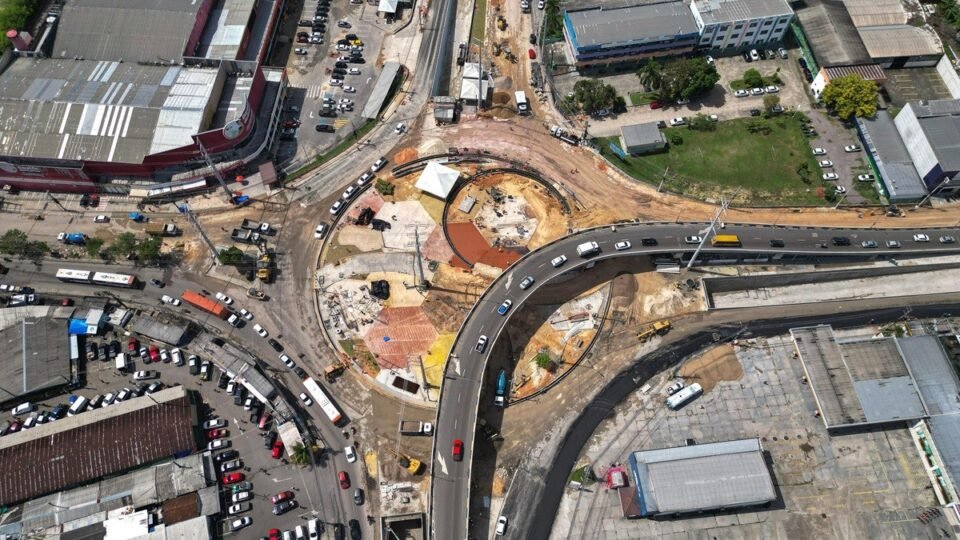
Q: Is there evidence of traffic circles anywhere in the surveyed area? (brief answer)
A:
Yes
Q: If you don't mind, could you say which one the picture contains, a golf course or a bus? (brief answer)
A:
bus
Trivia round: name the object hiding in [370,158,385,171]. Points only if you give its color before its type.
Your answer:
white vehicle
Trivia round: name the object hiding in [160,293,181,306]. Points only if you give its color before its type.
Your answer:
white vehicle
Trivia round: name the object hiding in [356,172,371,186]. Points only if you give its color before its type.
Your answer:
white car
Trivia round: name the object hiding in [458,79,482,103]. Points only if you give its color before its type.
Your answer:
white tent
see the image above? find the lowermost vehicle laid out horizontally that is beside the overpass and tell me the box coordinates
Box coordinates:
[398,420,433,434]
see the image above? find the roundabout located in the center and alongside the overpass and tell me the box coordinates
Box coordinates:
[312,154,612,413]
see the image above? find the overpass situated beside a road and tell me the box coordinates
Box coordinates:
[432,218,960,540]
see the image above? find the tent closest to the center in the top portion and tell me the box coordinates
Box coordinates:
[415,162,460,199]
